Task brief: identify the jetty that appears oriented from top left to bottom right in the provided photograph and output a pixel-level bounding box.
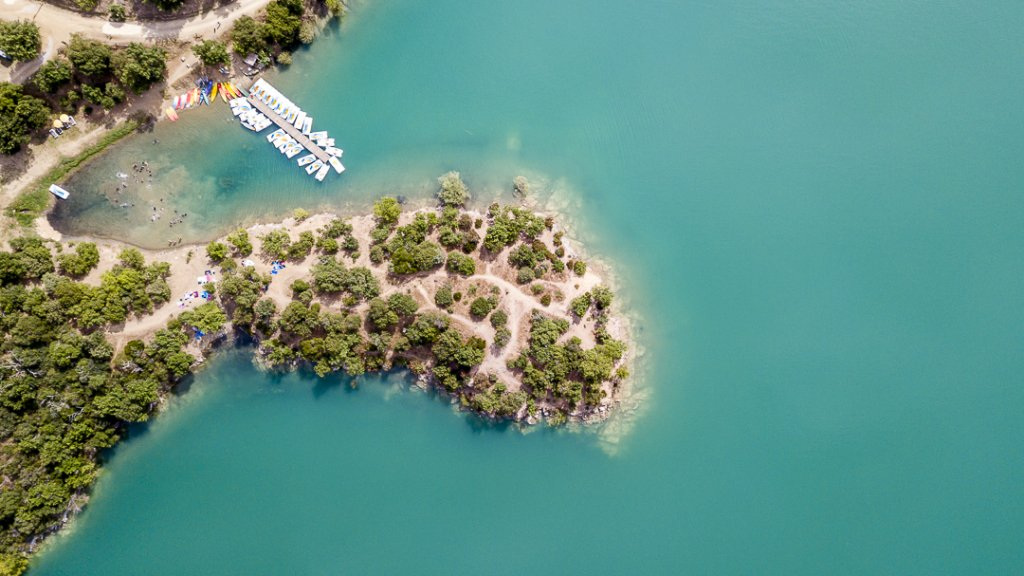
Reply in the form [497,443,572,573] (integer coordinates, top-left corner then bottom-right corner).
[245,92,330,162]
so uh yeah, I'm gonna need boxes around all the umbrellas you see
[53,119,65,128]
[60,113,70,123]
